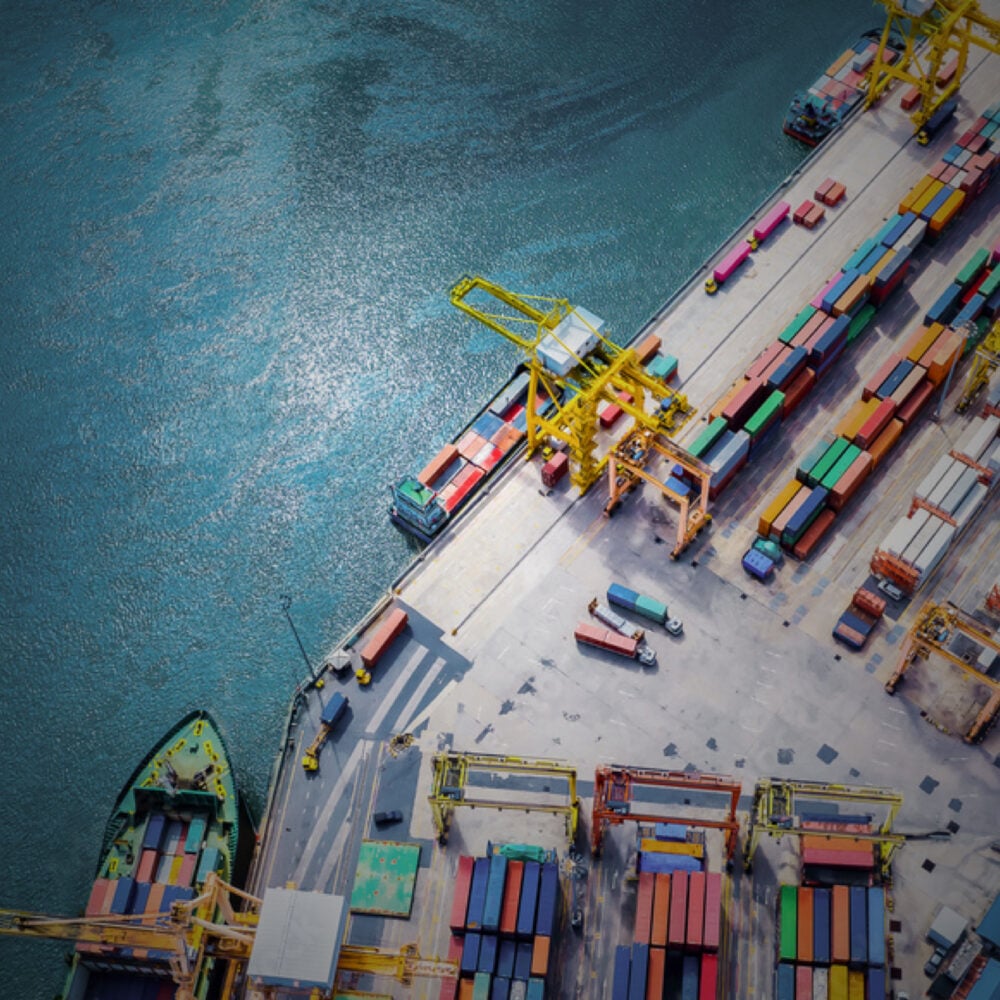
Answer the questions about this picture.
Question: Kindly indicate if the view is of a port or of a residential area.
port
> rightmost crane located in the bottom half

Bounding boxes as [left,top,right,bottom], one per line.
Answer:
[878,600,1000,751]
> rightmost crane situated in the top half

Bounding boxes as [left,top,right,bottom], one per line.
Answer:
[954,327,1000,414]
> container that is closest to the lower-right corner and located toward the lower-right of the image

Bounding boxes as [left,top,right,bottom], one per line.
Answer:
[946,941,979,983]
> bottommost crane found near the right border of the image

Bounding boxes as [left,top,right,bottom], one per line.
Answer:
[742,771,960,892]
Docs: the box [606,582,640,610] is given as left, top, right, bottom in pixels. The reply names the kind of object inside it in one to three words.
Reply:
shipping container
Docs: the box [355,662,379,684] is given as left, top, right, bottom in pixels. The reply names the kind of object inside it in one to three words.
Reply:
truck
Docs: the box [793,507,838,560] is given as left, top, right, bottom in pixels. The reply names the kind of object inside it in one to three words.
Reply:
shipping container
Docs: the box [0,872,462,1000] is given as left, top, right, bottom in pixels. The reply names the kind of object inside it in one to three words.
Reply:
container crane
